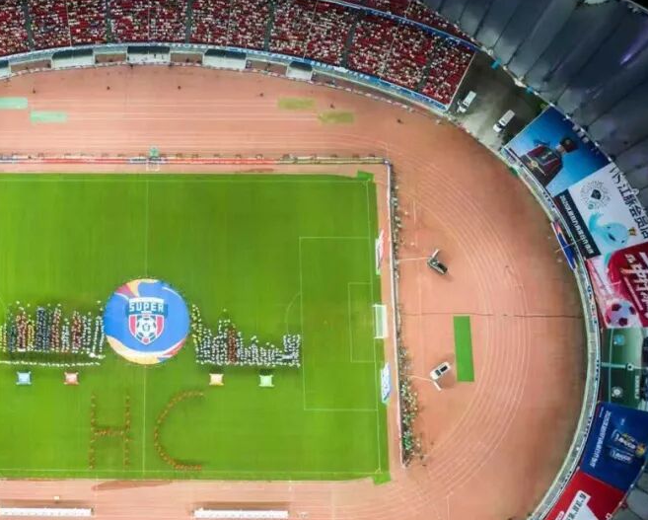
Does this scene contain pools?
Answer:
No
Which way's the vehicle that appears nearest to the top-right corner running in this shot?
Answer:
on a diagonal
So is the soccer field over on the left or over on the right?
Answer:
left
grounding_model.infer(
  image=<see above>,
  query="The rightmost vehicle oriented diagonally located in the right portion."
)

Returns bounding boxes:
[495,107,518,131]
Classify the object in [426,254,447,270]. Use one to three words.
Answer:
car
